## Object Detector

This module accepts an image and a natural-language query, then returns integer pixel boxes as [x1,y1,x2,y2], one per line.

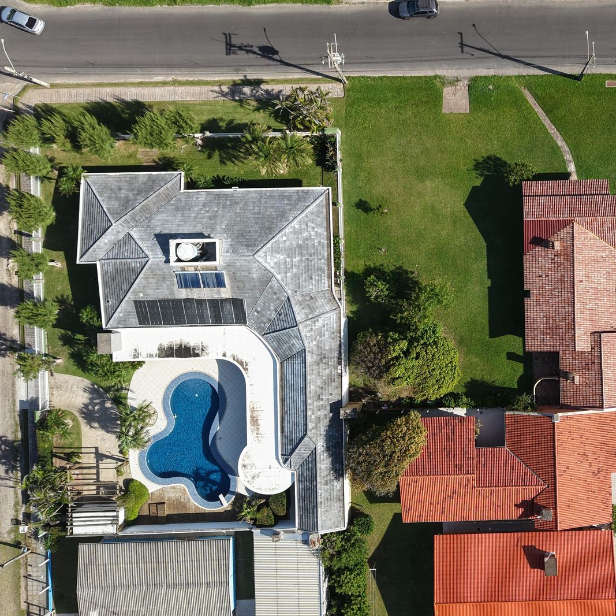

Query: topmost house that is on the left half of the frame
[77,171,351,536]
